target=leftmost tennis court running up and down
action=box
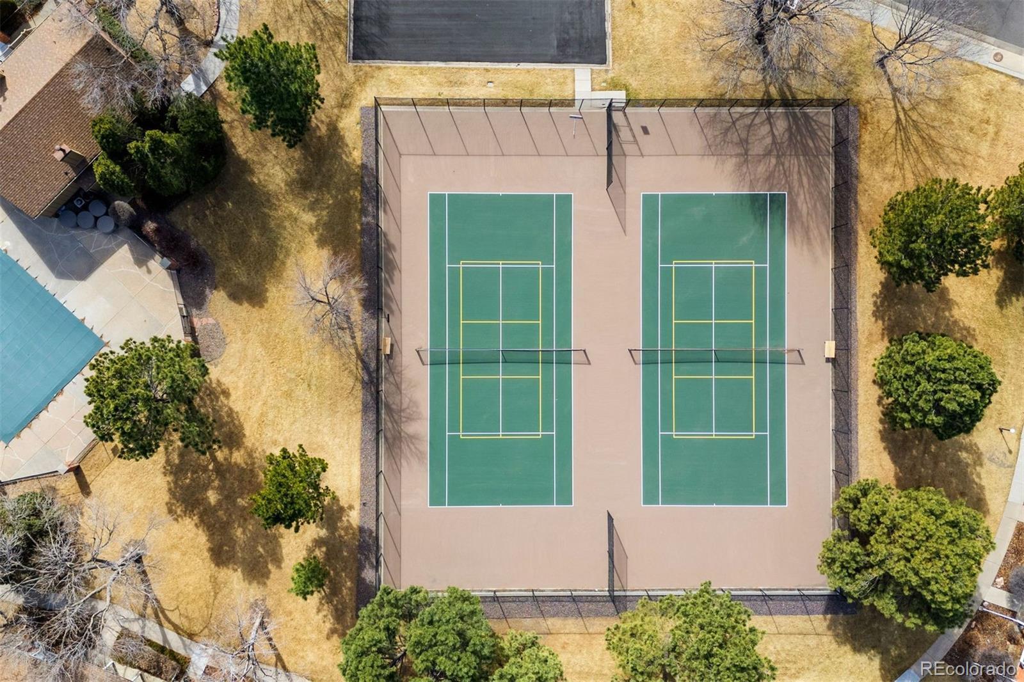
[428,193,573,507]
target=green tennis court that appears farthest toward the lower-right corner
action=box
[641,192,787,507]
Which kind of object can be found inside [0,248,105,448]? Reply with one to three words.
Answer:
swimming pool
